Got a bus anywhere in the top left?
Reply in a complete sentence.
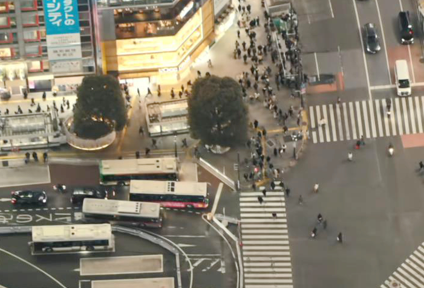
No, no bus appears in the top left.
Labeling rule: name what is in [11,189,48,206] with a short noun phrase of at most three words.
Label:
car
